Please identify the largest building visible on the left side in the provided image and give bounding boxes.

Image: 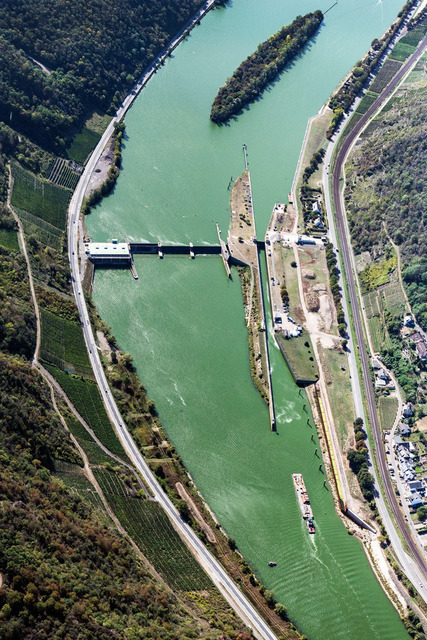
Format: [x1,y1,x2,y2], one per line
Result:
[89,241,131,261]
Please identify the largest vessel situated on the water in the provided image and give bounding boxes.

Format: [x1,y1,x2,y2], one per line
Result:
[293,473,313,519]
